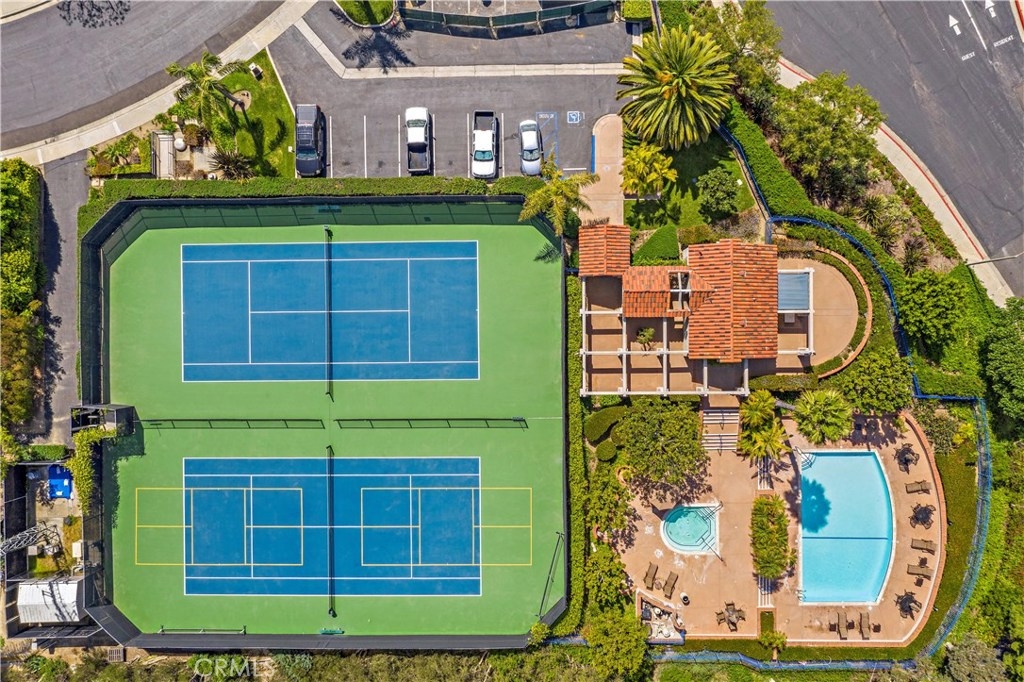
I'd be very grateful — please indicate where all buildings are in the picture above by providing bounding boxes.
[14,576,86,622]
[578,224,815,397]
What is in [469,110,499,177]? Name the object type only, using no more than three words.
truck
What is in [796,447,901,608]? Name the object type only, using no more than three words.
swimming pool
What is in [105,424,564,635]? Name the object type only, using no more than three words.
tennis court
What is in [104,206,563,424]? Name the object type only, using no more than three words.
tennis court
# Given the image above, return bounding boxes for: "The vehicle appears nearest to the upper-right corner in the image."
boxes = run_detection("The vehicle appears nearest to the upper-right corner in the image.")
[518,120,545,177]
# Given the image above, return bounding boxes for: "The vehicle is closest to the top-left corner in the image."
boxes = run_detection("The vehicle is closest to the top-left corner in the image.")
[292,105,324,178]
